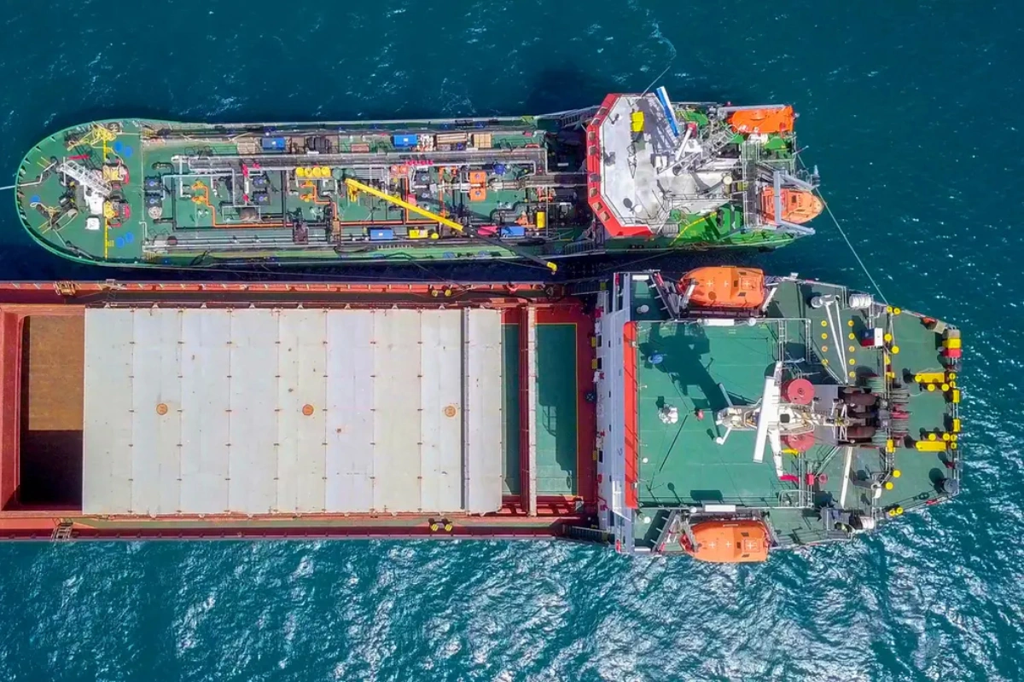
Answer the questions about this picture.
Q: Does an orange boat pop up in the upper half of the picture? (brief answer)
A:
Yes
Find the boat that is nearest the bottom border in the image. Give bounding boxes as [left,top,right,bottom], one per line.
[681,521,772,565]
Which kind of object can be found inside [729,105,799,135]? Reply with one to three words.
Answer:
boat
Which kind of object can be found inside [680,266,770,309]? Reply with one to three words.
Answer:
boat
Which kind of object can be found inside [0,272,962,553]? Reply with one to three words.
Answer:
ship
